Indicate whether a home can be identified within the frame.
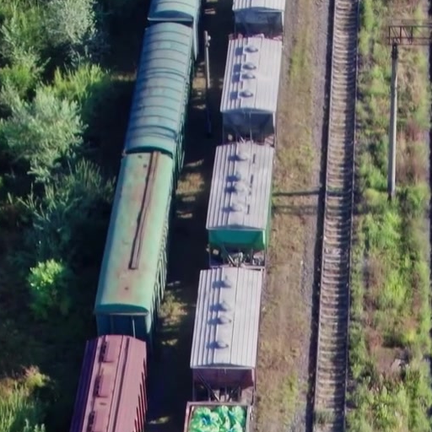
No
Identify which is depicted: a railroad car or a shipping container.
railroad car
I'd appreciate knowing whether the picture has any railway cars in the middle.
Yes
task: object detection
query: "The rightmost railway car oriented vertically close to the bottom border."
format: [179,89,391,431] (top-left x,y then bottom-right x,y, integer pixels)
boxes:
[190,267,266,425]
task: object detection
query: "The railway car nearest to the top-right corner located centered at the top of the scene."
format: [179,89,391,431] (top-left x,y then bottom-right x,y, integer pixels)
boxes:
[231,0,291,55]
